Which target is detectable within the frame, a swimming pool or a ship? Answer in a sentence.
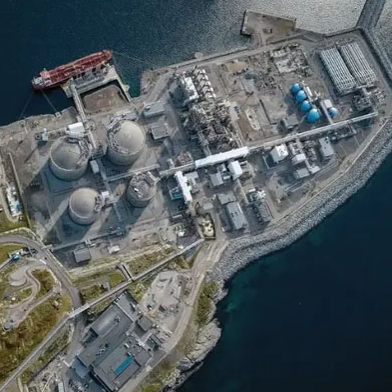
Of the two, only a ship appears.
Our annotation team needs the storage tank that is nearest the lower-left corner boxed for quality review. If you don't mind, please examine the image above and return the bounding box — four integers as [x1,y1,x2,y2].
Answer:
[66,187,105,223]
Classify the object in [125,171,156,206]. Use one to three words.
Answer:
storage tank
